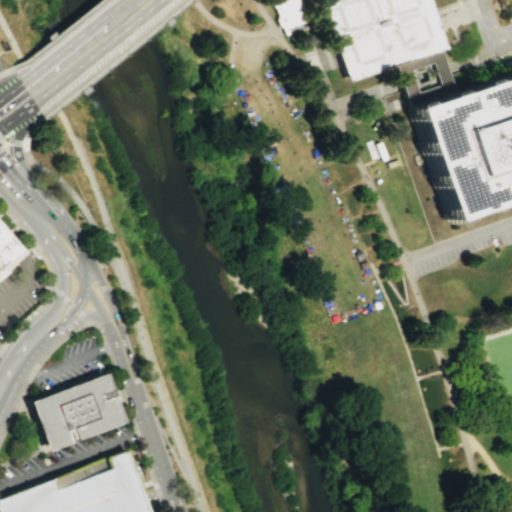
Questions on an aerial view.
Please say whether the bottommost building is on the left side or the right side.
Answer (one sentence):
The bottommost building sits on the left side.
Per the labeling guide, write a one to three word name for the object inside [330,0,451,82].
building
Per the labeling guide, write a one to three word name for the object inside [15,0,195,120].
bridge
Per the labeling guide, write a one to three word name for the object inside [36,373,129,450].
building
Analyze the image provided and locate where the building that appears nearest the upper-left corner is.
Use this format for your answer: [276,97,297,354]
[0,217,32,284]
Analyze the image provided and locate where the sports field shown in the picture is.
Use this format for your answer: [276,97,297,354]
[486,334,512,399]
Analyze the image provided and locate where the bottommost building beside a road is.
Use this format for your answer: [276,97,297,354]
[0,450,156,512]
